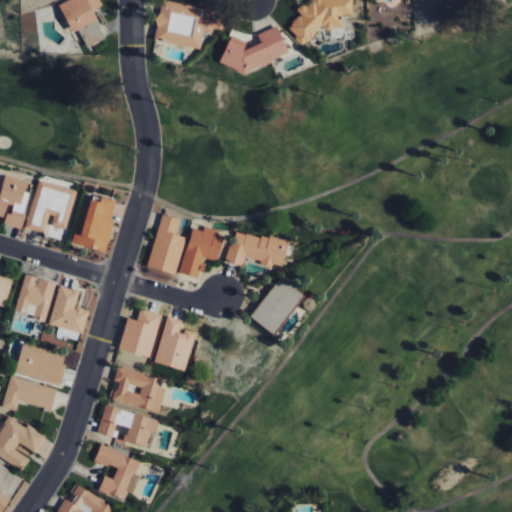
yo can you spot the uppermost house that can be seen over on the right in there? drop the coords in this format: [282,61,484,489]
[291,0,352,44]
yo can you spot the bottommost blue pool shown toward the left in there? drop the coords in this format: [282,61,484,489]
[143,475,159,496]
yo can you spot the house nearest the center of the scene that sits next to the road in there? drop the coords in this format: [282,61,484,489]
[226,232,294,270]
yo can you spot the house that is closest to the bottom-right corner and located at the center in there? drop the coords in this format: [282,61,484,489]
[251,285,306,334]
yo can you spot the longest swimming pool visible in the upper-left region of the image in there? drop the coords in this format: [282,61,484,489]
[43,22,64,44]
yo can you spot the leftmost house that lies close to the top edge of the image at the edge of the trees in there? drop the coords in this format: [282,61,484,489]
[60,0,106,50]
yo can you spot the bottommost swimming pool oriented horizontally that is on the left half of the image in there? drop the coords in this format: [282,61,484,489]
[172,388,197,402]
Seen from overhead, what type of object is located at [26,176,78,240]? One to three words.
house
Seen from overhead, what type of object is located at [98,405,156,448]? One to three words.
house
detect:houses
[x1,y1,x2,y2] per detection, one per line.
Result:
[0,465,24,512]
[98,405,156,448]
[95,444,140,502]
[16,274,57,323]
[179,229,222,278]
[0,416,45,469]
[251,285,306,334]
[147,215,186,276]
[60,485,108,512]
[112,367,166,413]
[155,1,224,50]
[221,27,288,75]
[72,196,116,254]
[226,232,294,270]
[16,344,66,386]
[291,0,352,44]
[49,286,89,342]
[154,316,197,370]
[119,311,162,358]
[26,176,78,240]
[3,376,57,412]
[60,0,106,50]
[0,278,13,308]
[0,175,30,229]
